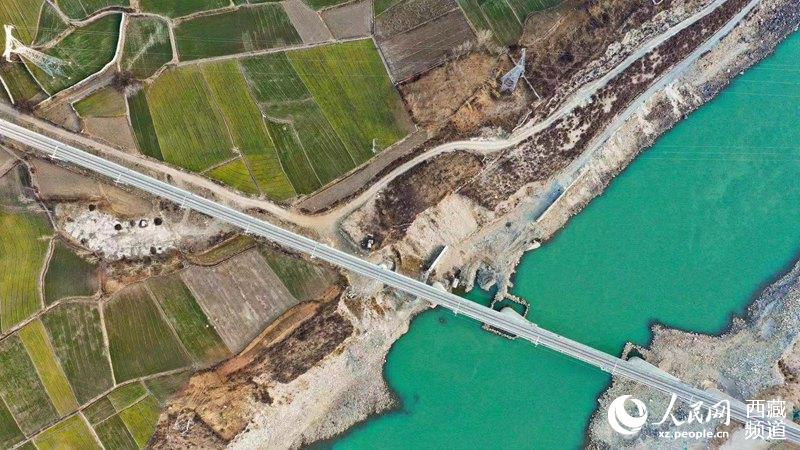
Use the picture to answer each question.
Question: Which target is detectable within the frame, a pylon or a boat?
pylon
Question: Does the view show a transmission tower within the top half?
Yes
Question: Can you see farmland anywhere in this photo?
Yes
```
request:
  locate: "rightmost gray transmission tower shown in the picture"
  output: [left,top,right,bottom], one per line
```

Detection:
[496,52,525,98]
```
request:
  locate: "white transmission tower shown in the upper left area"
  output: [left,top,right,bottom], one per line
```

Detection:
[2,26,75,81]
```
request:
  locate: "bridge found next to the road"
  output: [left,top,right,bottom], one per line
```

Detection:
[0,120,800,448]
